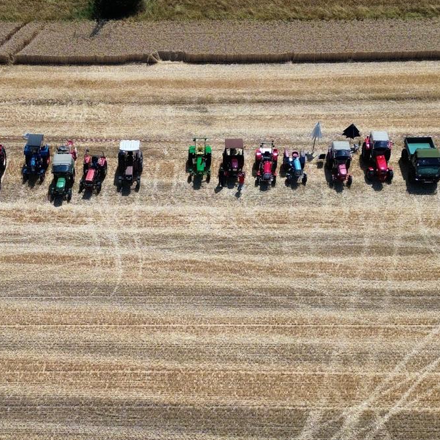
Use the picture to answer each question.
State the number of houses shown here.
0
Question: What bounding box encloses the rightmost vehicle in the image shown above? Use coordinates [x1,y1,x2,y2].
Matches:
[406,139,440,182]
